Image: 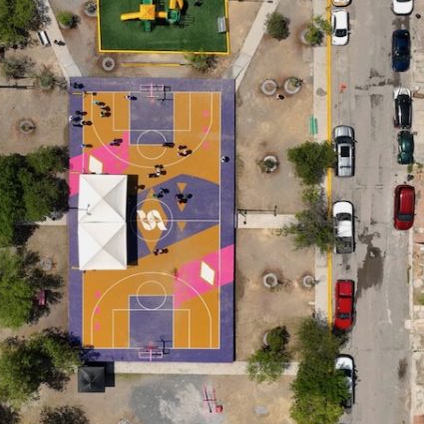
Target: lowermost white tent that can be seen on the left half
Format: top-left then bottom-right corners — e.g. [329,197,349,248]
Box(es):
[79,221,129,270]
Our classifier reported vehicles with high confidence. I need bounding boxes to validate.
[334,354,355,404]
[396,129,415,166]
[333,201,355,254]
[333,279,355,330]
[334,126,356,178]
[330,9,350,46]
[394,87,415,130]
[394,183,416,231]
[392,0,414,16]
[391,30,412,74]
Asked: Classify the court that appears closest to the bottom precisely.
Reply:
basketball court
